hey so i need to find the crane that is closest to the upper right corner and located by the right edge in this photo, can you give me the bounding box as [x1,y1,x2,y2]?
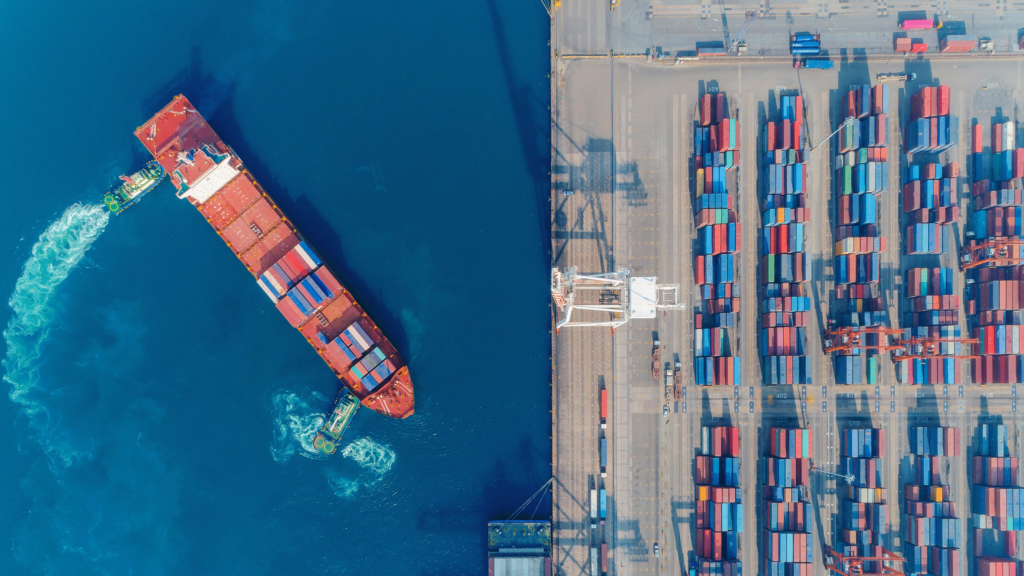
[964,240,1024,273]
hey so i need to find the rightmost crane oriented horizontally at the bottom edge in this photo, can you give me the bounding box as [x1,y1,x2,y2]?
[827,543,908,576]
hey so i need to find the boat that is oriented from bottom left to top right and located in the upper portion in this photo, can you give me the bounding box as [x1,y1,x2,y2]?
[103,166,160,214]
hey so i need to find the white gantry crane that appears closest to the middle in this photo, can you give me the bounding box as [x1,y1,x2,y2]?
[553,258,683,341]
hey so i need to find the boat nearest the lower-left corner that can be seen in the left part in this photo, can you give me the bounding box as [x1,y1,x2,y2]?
[315,393,362,457]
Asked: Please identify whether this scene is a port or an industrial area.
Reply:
port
